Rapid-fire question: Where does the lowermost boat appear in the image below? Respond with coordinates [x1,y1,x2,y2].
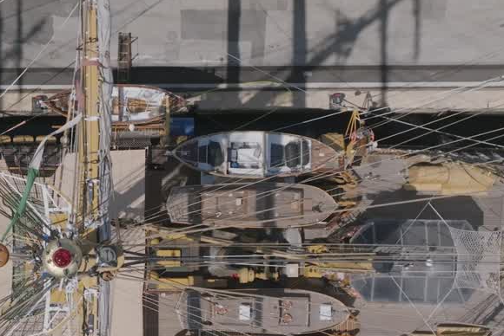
[173,288,354,336]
